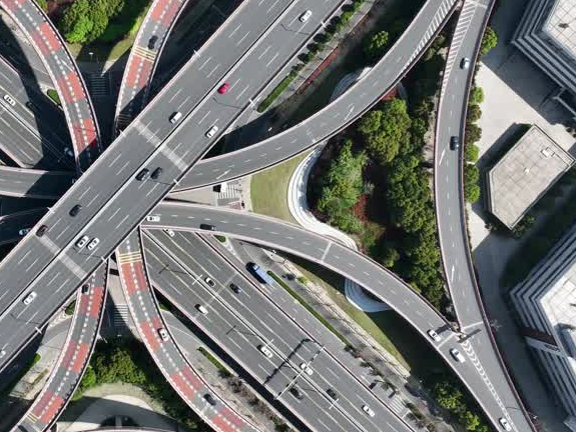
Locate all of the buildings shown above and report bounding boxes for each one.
[483,125,576,229]
[507,228,576,432]
[510,0,576,125]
